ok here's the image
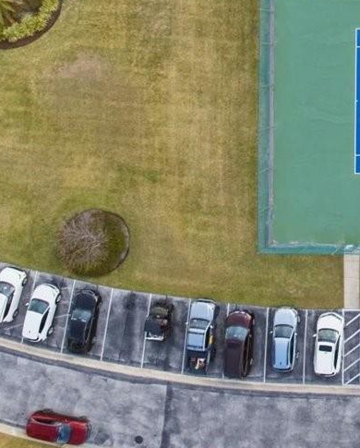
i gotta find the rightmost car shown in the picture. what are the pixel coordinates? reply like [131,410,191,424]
[314,311,345,377]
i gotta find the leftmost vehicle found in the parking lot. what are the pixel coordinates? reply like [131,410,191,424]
[0,264,29,325]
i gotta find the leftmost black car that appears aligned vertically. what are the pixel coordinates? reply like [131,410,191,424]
[64,288,103,354]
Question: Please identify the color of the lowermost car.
red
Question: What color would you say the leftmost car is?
white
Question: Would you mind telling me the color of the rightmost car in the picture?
white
